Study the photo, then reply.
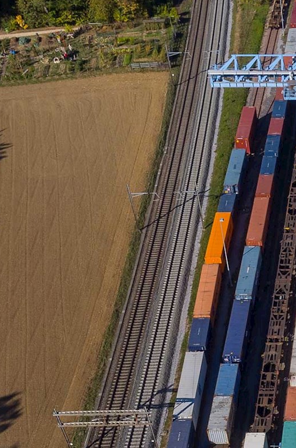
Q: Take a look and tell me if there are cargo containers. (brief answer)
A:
Yes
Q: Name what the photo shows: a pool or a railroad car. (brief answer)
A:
railroad car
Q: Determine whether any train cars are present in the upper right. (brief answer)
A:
Yes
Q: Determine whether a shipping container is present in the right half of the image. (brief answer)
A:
Yes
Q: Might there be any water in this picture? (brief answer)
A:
No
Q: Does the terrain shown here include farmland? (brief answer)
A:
Yes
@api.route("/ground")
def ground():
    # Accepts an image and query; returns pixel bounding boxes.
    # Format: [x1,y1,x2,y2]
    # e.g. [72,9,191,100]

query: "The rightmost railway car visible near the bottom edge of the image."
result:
[254,343,285,445]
